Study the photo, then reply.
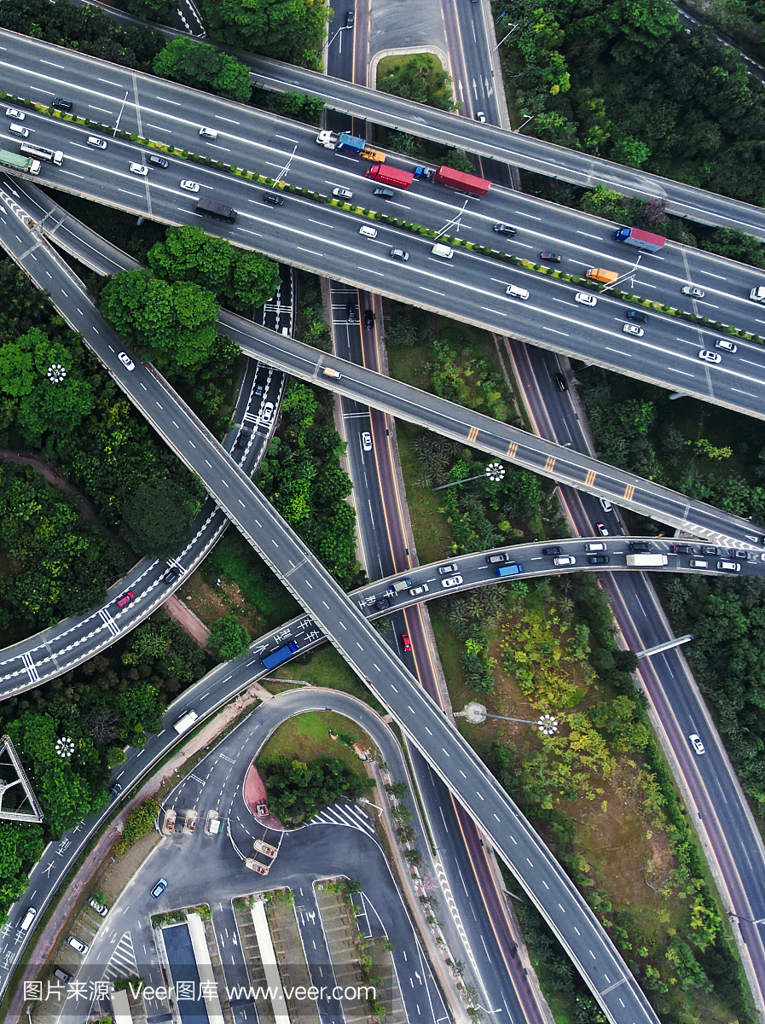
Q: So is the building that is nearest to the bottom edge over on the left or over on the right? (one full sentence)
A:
The building that is nearest to the bottom edge is on the left side of the image.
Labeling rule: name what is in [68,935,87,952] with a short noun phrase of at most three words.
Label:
car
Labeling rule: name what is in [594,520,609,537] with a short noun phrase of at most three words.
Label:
car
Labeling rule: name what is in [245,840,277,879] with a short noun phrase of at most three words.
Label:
toll station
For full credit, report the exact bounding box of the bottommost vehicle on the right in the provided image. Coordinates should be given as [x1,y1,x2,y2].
[688,734,703,754]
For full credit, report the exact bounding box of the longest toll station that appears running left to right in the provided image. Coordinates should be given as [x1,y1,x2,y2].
[156,809,225,837]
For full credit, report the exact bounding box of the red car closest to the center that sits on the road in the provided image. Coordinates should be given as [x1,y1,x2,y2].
[400,632,412,651]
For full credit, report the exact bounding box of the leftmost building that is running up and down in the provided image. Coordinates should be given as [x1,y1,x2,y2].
[160,920,209,1024]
